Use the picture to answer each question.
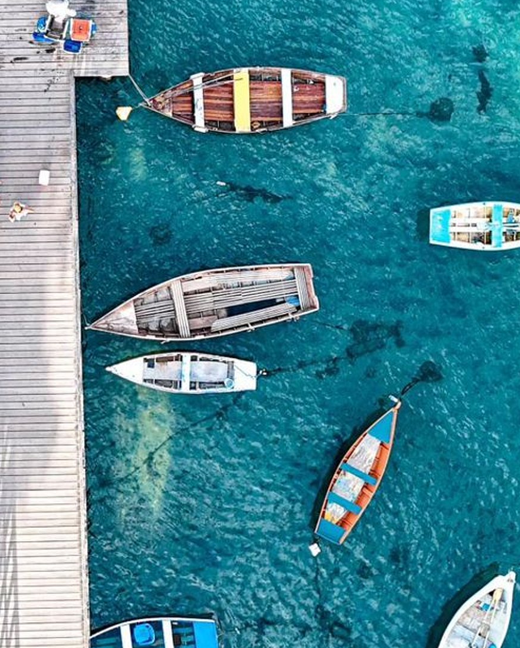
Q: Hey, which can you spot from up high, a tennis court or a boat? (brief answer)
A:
boat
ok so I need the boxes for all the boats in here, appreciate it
[84,264,320,342]
[137,67,349,133]
[81,619,220,648]
[425,201,520,252]
[315,403,401,546]
[439,569,516,648]
[104,352,258,394]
